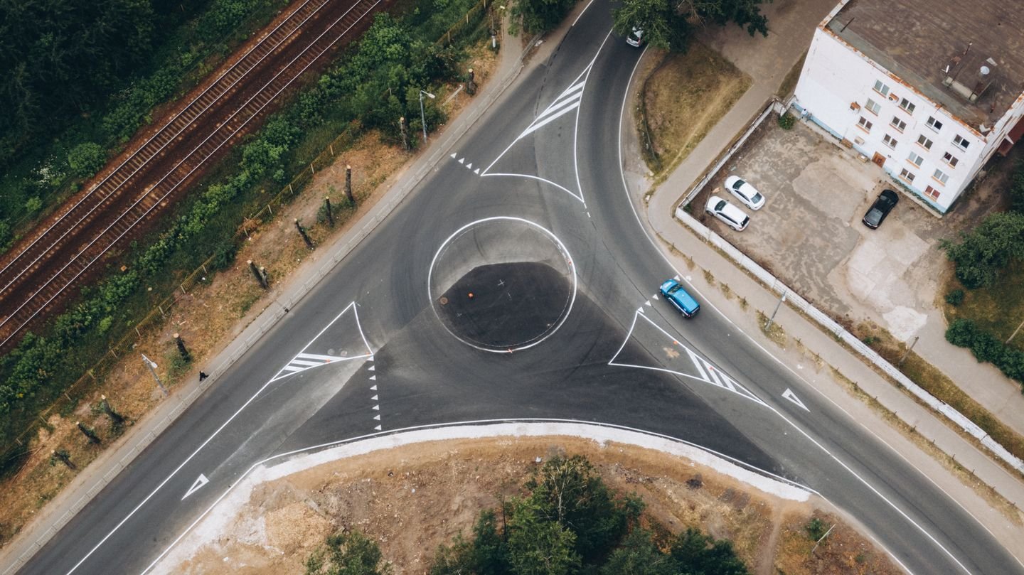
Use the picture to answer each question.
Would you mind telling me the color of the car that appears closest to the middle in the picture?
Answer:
blue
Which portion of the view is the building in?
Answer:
top right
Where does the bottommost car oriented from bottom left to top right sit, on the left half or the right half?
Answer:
right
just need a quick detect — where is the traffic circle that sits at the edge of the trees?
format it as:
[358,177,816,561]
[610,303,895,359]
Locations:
[271,57,770,430]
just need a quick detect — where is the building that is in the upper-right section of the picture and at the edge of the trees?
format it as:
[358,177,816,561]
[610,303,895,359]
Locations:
[788,0,1024,218]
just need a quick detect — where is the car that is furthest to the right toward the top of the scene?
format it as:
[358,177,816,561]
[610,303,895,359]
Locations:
[864,190,900,233]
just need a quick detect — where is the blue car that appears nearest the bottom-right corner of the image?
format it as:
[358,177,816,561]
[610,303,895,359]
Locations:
[658,279,701,320]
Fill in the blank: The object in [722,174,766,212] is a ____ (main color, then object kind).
white car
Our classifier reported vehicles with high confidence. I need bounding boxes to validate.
[658,279,701,320]
[864,190,900,233]
[703,196,751,232]
[627,31,648,47]
[722,174,766,212]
